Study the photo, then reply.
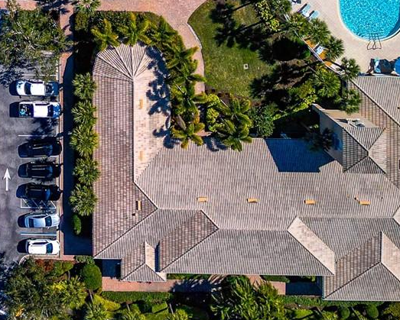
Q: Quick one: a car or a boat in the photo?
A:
car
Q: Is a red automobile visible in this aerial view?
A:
No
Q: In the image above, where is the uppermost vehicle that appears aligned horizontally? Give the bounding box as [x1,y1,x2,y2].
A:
[17,81,57,98]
